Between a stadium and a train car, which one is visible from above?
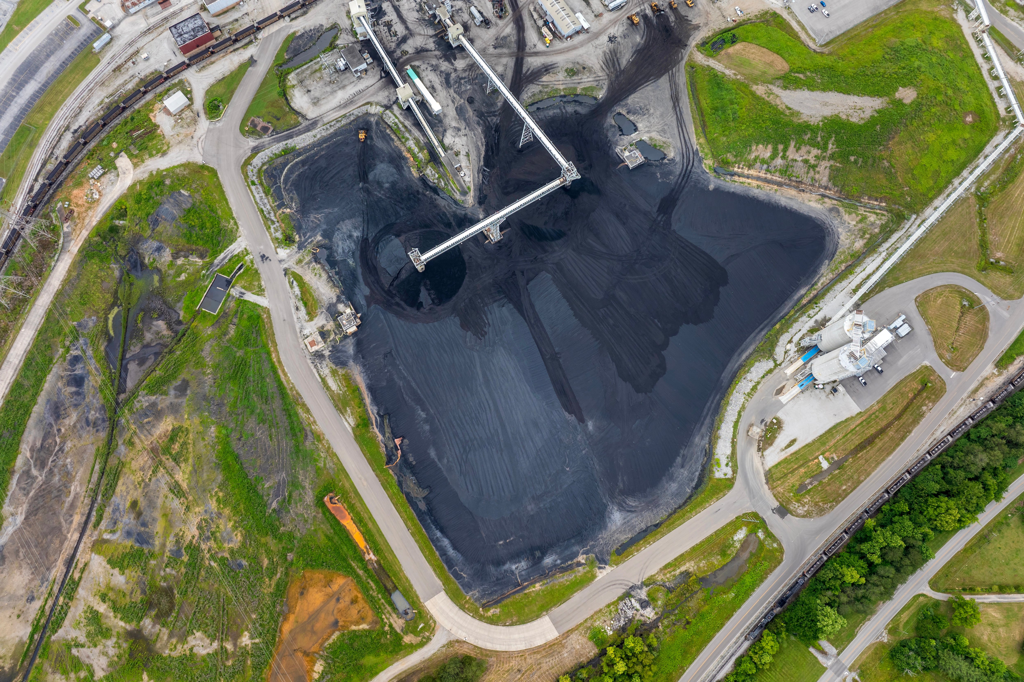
train car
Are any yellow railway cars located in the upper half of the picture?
No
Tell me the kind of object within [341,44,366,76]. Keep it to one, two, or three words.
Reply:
building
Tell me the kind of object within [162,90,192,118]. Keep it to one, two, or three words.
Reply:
shed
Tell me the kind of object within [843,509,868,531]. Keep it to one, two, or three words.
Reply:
rail car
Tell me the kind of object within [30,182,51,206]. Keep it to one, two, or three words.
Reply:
rail car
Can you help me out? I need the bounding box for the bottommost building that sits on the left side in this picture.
[337,301,361,333]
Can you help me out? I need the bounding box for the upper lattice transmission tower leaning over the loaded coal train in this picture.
[0,206,58,251]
